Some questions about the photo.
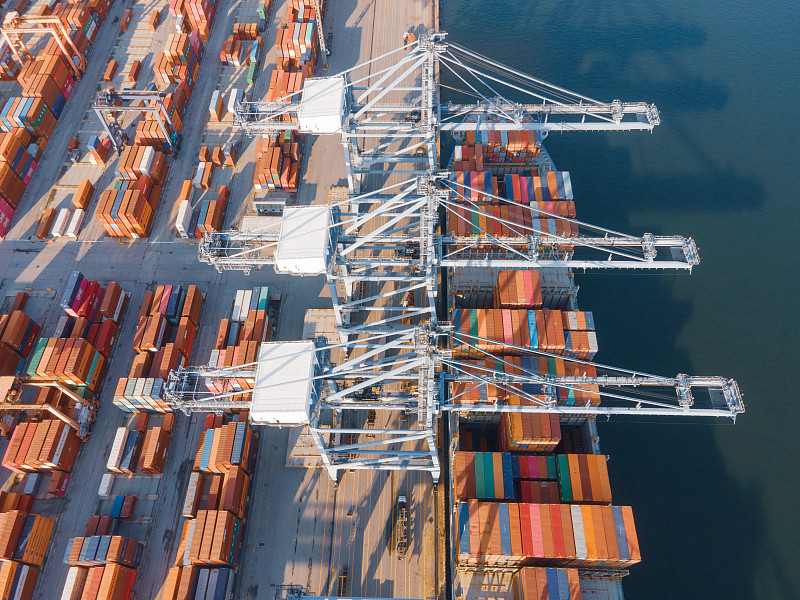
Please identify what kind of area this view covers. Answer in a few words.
port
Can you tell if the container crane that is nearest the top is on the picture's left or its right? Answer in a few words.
left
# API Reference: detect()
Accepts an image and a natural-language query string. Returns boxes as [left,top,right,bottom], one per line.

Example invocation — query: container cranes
[91,91,180,155]
[0,15,88,80]
[196,163,707,365]
[230,23,665,230]
[161,312,749,497]
[0,375,94,438]
[218,577,437,600]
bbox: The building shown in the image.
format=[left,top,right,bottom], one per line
[247,196,285,216]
